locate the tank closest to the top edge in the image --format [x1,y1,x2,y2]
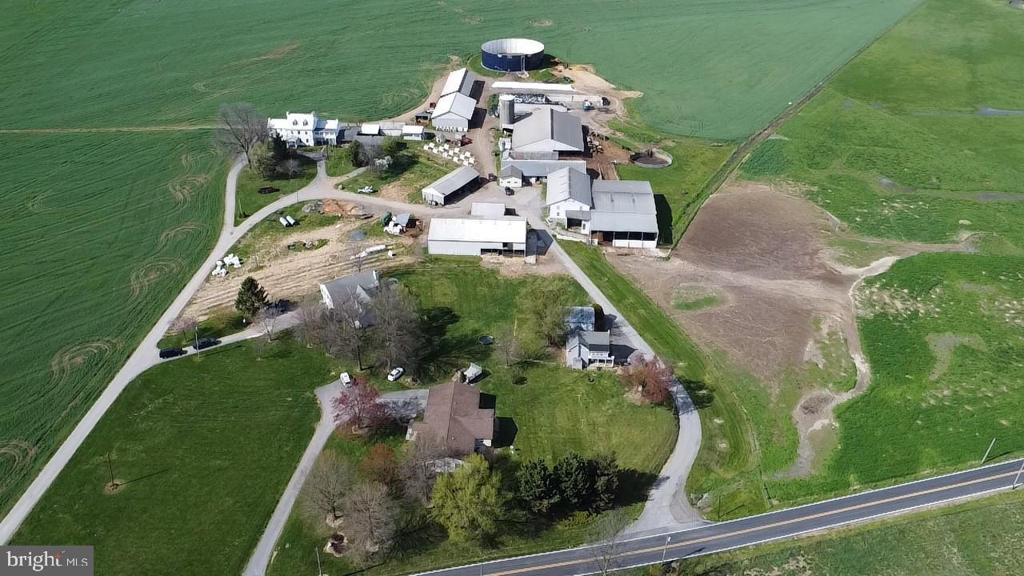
[479,32,546,68]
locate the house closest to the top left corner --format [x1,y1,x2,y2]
[265,109,341,150]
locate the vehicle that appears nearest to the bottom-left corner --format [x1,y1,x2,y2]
[157,346,186,361]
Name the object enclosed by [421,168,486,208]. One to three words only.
shed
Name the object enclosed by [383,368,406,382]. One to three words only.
car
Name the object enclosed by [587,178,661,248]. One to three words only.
building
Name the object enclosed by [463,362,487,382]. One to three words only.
camper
